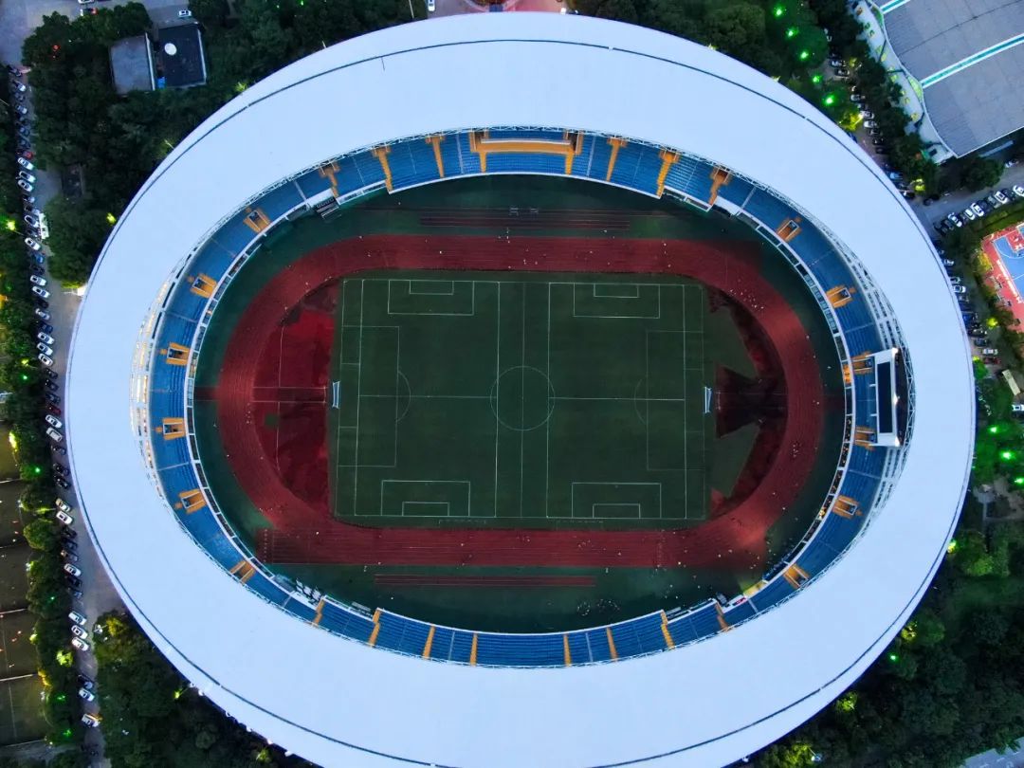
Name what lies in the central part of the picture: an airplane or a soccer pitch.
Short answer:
soccer pitch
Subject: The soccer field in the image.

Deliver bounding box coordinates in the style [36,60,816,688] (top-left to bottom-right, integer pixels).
[329,270,712,530]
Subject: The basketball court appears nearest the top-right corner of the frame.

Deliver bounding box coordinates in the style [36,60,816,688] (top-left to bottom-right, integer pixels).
[982,223,1024,332]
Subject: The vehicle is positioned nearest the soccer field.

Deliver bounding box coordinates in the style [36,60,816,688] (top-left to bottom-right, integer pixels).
[714,589,729,606]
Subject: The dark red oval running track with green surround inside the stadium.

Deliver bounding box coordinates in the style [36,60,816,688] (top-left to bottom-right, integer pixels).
[194,175,846,635]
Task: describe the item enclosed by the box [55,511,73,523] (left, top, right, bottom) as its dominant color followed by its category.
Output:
white vehicle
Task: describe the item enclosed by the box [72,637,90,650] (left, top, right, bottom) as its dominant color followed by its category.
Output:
white vehicle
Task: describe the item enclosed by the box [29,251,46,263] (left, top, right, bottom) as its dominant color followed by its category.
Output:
blue vehicle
